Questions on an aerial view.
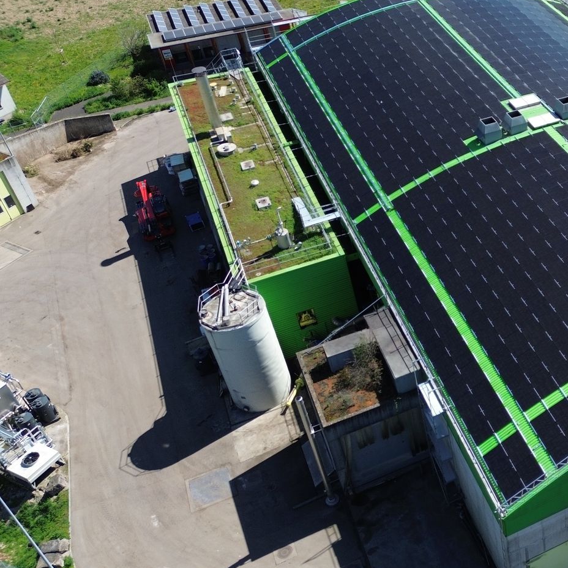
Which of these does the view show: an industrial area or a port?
industrial area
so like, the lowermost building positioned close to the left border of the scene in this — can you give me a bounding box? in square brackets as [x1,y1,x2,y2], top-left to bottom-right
[0,162,33,225]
